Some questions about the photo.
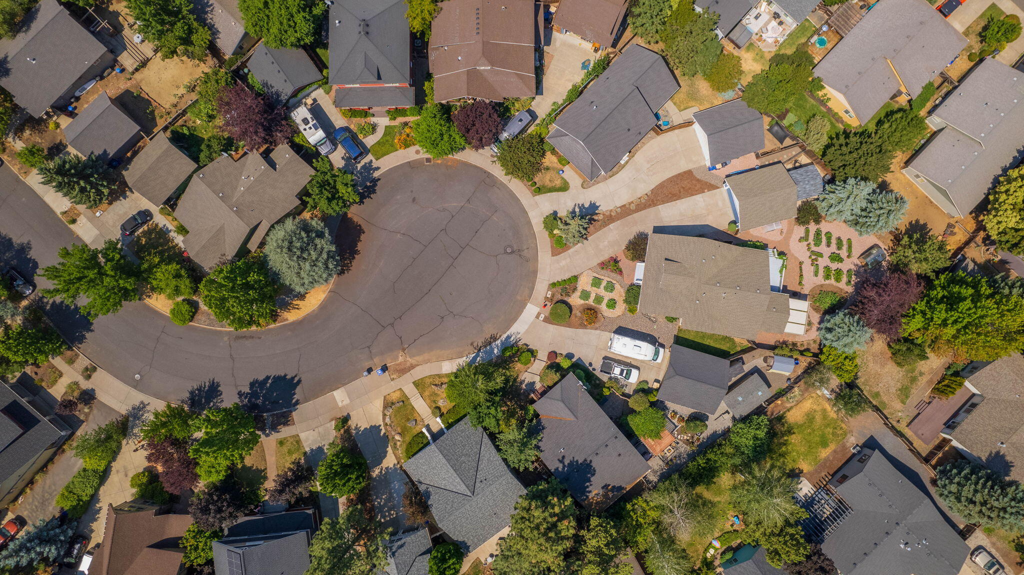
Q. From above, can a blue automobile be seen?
Yes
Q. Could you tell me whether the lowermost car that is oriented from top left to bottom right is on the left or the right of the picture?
right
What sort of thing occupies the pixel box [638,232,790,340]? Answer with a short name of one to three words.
house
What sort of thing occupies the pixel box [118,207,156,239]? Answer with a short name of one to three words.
car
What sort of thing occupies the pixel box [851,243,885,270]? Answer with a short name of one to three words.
greenhouse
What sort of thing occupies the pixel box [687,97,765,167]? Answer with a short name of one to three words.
building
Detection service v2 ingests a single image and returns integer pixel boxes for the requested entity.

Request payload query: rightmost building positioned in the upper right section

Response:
[901,58,1024,219]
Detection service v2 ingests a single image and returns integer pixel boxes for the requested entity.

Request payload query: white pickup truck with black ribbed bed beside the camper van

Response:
[597,358,642,383]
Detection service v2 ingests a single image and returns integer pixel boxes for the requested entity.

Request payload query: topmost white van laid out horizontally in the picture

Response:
[605,330,662,359]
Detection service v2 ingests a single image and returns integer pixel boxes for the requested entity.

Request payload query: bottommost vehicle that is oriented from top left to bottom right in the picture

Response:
[969,545,1005,575]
